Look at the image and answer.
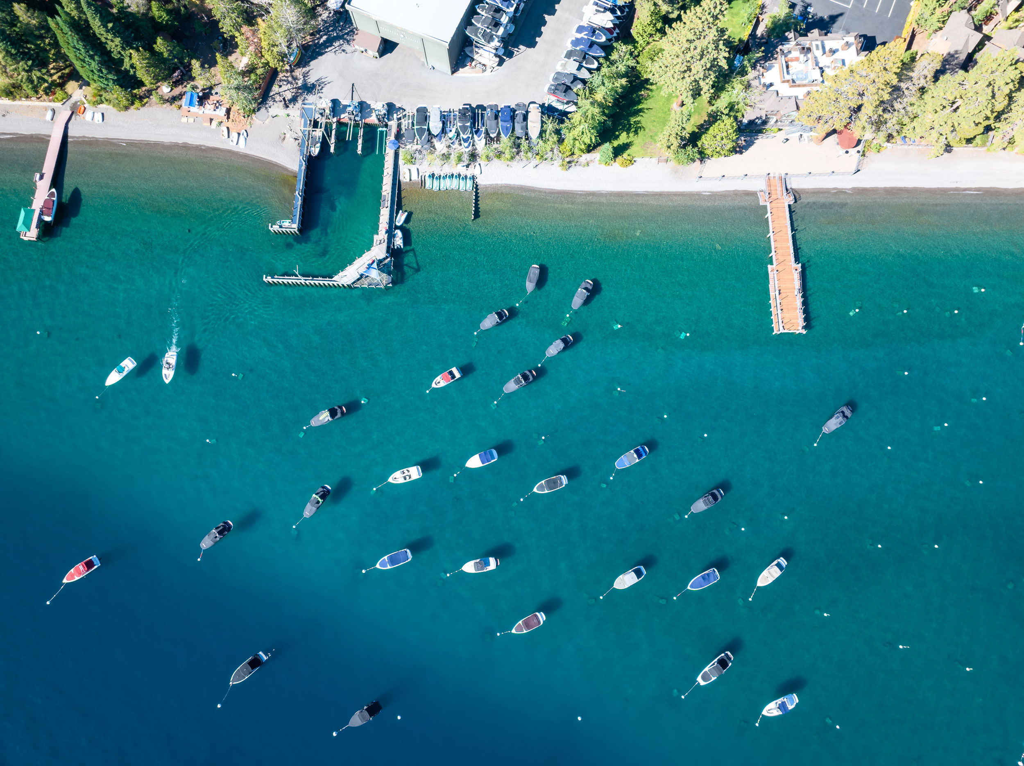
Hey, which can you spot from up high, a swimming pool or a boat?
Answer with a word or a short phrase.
boat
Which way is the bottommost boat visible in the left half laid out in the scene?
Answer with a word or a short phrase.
diagonally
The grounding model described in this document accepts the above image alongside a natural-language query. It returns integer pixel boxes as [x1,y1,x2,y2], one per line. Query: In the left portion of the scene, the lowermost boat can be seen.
[349,699,383,726]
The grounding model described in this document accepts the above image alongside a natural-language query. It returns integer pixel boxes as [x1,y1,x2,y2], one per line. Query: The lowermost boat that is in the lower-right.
[762,694,797,715]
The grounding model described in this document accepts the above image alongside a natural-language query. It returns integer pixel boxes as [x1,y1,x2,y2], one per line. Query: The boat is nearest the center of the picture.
[504,371,535,395]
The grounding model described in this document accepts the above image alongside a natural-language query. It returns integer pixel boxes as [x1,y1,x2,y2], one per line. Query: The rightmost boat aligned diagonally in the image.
[823,406,851,434]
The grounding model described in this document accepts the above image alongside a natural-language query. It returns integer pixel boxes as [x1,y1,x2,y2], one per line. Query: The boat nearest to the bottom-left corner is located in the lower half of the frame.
[63,556,102,583]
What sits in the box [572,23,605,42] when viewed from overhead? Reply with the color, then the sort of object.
blue boat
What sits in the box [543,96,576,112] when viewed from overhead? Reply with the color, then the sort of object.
white boat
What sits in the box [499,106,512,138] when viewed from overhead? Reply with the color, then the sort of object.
blue boat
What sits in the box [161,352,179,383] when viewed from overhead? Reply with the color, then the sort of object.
white boat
